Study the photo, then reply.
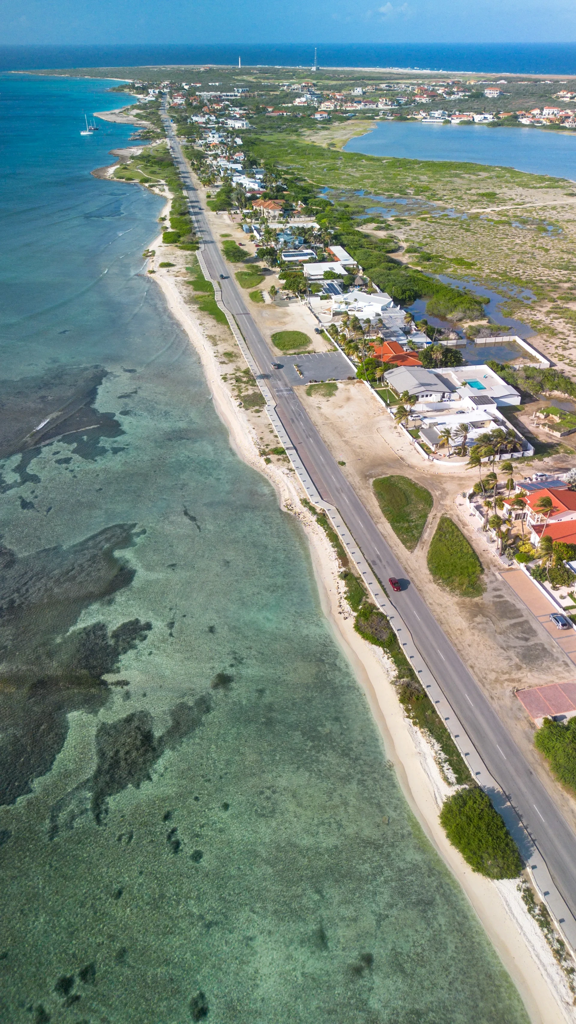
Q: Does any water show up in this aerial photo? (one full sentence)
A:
Yes, there's water in this view.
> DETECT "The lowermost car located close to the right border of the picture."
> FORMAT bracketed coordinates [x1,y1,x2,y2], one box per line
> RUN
[547,611,571,629]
